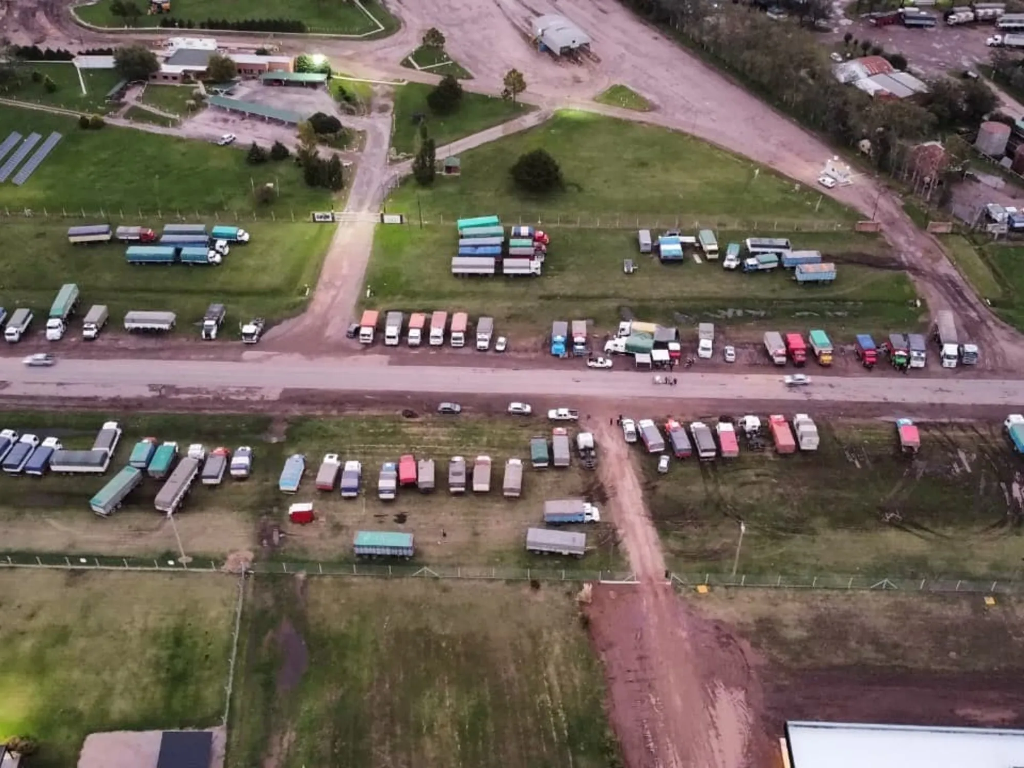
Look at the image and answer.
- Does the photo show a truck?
Yes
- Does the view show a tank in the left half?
No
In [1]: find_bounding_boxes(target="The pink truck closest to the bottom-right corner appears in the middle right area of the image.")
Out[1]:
[895,422,922,452]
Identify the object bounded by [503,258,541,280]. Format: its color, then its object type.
white truck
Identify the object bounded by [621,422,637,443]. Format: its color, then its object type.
white vehicle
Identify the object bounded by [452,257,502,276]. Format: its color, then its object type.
white trailer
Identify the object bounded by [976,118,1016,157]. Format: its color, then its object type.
gray storage tank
